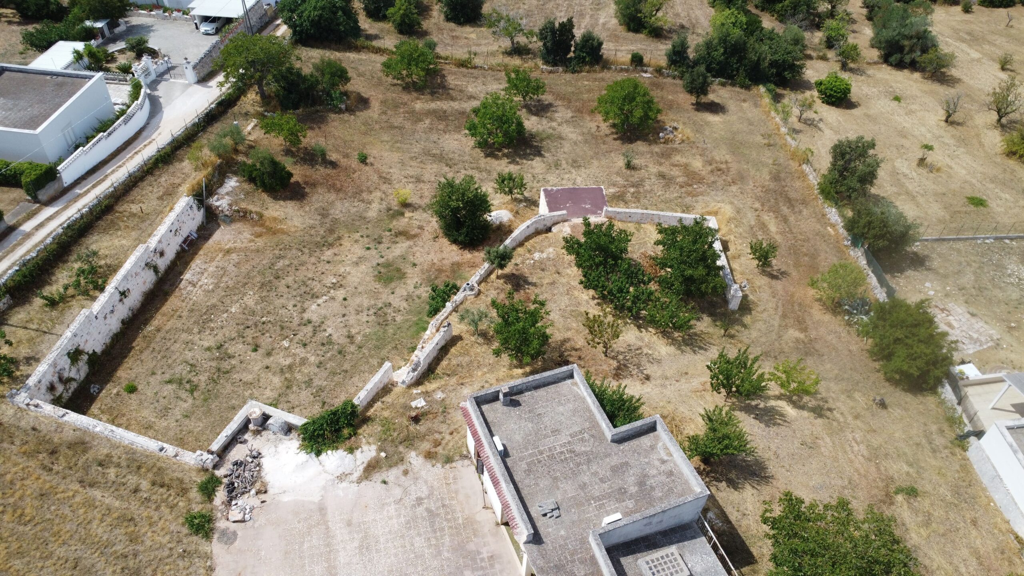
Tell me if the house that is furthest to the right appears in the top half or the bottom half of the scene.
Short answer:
bottom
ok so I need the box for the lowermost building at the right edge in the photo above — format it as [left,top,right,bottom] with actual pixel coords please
[980,418,1024,513]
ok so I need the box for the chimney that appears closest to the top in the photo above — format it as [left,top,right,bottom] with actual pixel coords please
[463,277,478,297]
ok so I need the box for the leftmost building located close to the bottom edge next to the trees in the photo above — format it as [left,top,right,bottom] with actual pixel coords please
[463,364,730,576]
